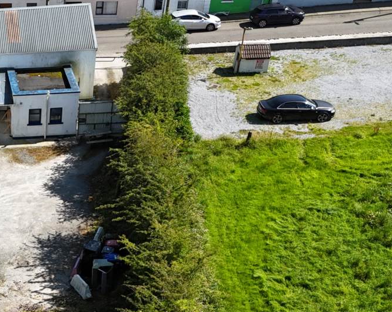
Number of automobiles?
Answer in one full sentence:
I count 3 automobiles.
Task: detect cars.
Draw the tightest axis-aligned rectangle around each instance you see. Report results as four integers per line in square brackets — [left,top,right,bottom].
[177,9,221,31]
[259,93,338,123]
[247,2,304,28]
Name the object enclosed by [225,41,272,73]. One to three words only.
shed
